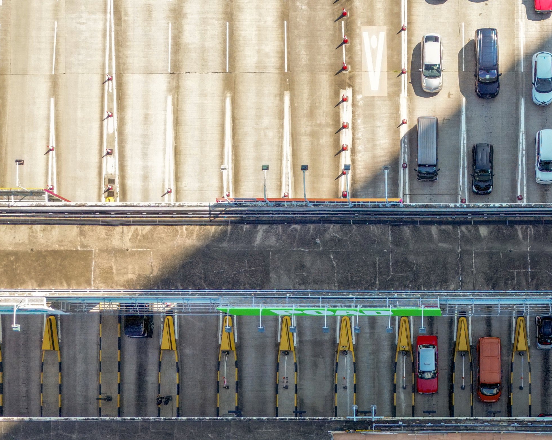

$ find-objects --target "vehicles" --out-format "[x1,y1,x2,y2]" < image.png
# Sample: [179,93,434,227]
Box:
[419,35,445,93]
[414,336,440,394]
[475,339,503,402]
[471,141,495,197]
[474,32,501,96]
[534,131,552,183]
[534,316,552,351]
[415,119,440,180]
[533,0,552,16]
[531,53,552,105]
[126,309,154,340]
